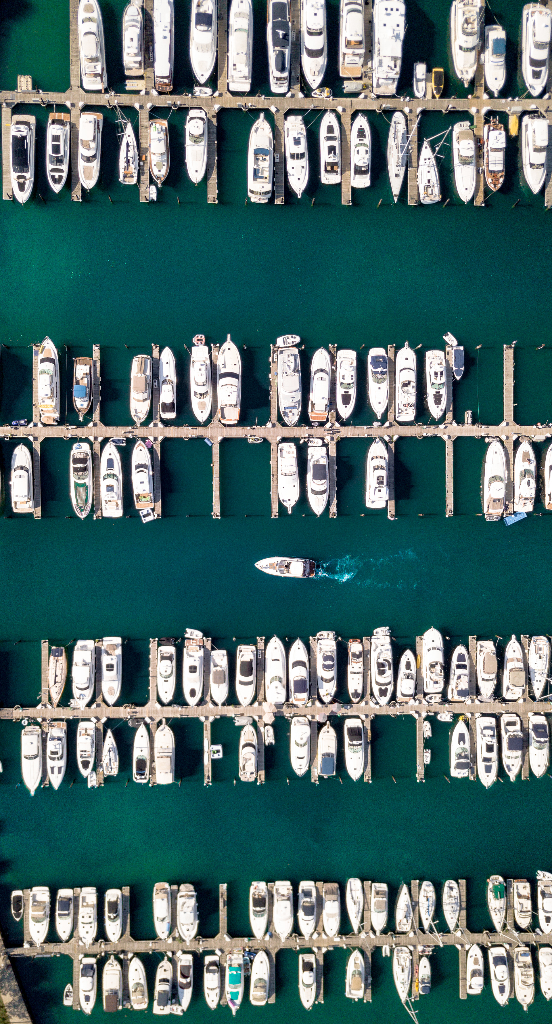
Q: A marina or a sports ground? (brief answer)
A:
marina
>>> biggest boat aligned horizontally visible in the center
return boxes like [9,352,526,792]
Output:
[255,556,316,578]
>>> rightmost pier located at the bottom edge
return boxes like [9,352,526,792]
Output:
[57,878,552,1009]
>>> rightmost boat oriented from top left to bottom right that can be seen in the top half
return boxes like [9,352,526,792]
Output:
[442,330,457,346]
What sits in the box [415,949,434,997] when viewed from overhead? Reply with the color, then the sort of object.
white boat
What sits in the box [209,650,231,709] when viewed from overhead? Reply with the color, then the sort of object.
white boat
